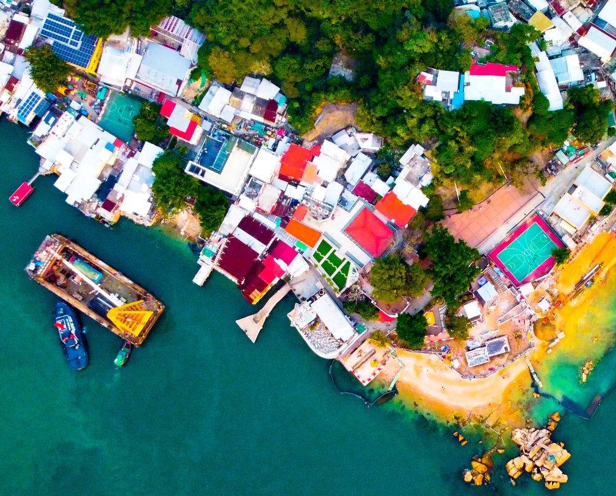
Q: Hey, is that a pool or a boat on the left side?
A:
boat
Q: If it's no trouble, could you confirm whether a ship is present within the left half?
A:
Yes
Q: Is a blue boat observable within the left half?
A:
Yes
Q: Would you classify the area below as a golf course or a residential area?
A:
residential area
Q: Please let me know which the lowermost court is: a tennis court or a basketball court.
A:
basketball court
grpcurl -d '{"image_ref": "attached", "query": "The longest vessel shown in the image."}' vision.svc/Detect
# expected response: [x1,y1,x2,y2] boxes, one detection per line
[25,234,166,346]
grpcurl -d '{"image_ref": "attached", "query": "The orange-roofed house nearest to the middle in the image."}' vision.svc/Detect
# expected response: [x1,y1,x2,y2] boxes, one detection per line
[285,219,322,247]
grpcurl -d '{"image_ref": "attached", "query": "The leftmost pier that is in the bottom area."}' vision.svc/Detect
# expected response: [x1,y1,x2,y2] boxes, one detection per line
[236,284,291,343]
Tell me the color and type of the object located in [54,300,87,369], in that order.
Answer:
blue boat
